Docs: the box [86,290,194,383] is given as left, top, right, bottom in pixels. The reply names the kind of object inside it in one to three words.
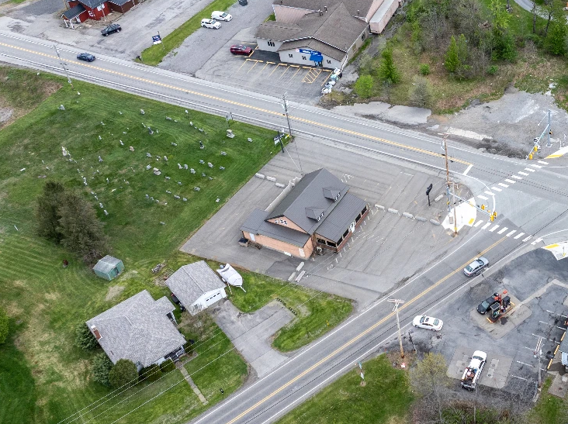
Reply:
house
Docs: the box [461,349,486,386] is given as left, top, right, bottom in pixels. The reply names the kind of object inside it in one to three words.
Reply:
truck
